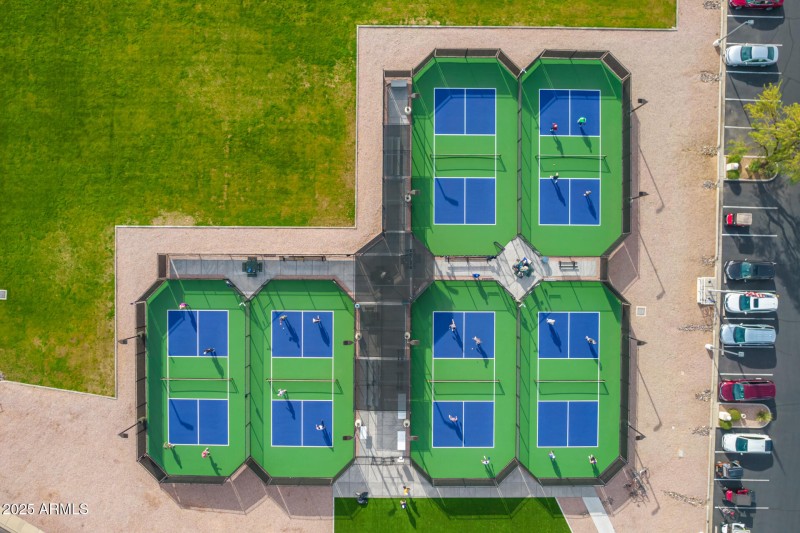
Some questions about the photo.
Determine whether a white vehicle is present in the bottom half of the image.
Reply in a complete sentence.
Yes, a white vehicle appears in the bottom half of the image.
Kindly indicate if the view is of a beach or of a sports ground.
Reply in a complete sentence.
This looks like a sports ground.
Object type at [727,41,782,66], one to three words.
car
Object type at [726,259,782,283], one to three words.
car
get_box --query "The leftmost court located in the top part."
[412,56,518,256]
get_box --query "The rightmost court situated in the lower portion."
[517,281,622,478]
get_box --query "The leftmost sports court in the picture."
[146,281,248,477]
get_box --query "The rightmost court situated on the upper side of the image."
[520,59,622,256]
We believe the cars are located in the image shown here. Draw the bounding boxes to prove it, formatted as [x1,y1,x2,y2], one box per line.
[727,41,782,66]
[720,378,781,403]
[723,432,776,456]
[723,322,781,347]
[726,291,781,315]
[730,0,786,9]
[726,259,782,283]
